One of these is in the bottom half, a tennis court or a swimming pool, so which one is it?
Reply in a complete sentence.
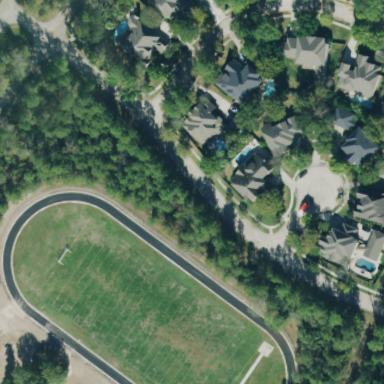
There is a swimming pool in the bottom half.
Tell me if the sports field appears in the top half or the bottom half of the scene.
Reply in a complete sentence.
It is in the bottom half that the sports field appears.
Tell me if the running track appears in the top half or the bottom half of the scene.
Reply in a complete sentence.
The bottom half of the photo is where the running track is.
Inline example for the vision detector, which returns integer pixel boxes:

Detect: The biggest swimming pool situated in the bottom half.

[350,256,382,278]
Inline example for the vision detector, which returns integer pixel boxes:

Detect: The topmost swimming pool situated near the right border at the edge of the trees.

[348,93,375,109]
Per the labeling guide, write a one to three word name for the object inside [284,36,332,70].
house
